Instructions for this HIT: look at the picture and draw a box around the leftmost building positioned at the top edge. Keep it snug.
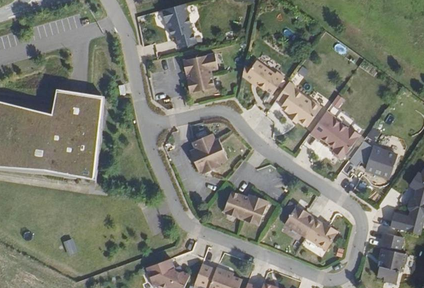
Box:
[160,4,199,51]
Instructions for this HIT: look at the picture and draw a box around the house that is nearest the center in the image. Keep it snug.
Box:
[190,133,226,177]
